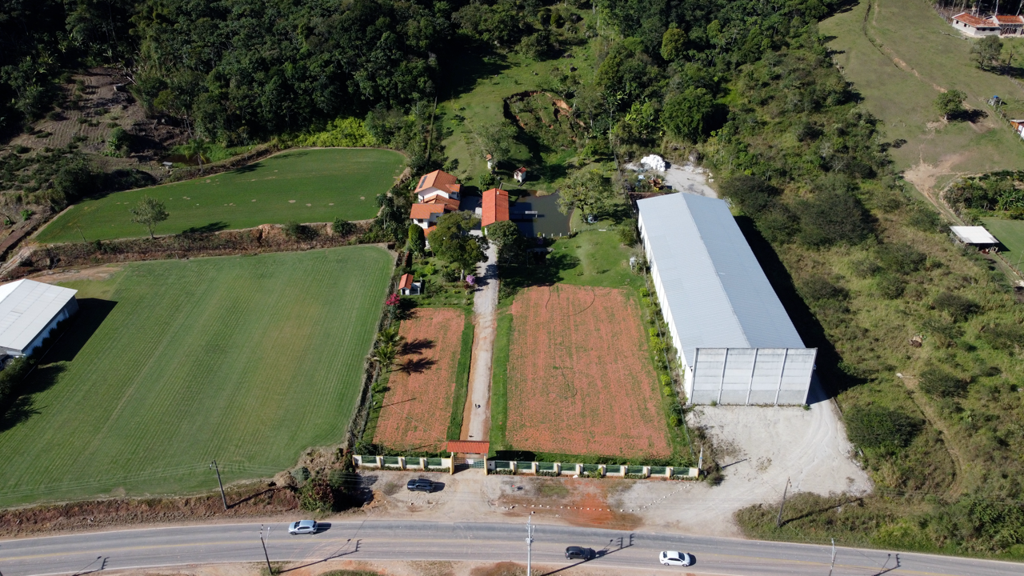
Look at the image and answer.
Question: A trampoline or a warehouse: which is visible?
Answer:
warehouse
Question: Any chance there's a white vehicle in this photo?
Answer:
Yes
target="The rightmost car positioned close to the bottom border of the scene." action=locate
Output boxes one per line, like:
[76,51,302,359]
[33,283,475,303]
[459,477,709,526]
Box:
[659,549,692,565]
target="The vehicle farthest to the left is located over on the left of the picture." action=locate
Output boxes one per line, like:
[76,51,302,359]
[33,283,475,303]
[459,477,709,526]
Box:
[288,518,318,534]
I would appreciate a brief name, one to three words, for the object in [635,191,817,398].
warehouse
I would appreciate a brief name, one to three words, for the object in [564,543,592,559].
car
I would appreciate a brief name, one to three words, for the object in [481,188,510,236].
building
